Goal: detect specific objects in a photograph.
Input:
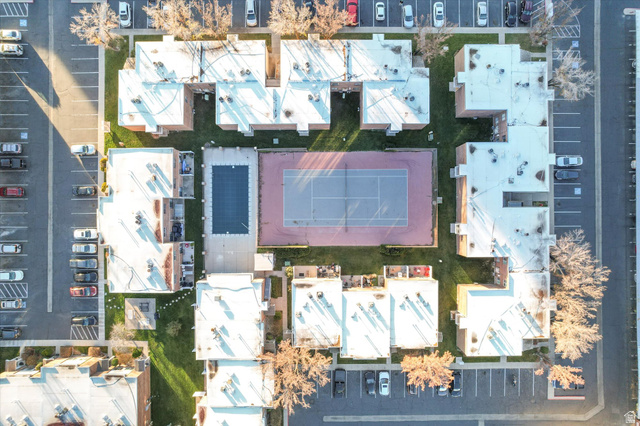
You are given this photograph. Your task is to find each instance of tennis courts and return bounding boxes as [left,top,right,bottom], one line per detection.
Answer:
[259,150,433,246]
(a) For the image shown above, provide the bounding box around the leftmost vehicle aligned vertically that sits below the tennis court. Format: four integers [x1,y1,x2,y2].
[334,367,346,398]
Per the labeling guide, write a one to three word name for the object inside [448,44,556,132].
building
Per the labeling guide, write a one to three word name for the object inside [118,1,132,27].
car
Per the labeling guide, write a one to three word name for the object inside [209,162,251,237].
swimming pool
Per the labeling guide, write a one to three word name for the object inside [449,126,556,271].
building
